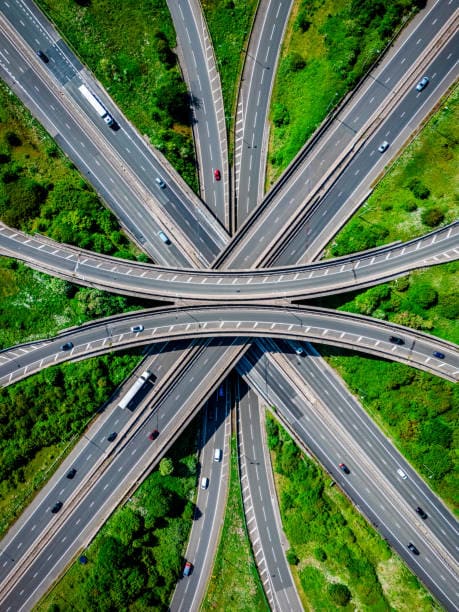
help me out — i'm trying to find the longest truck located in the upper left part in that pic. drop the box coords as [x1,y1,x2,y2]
[78,84,114,127]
